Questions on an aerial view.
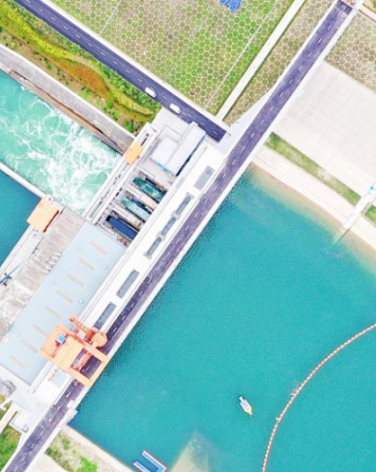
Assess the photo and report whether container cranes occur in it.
Yes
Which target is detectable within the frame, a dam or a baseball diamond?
dam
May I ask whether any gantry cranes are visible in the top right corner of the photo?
No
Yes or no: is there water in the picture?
Yes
